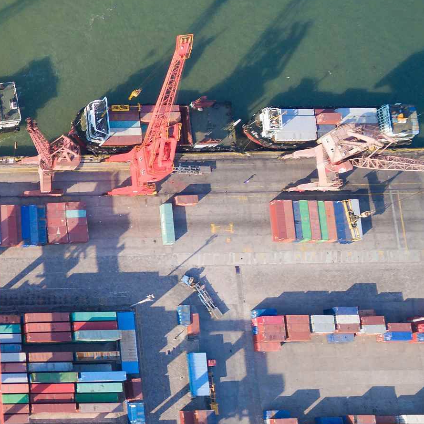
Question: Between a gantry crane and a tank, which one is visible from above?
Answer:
gantry crane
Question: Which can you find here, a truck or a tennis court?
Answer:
truck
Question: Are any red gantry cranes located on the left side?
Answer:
Yes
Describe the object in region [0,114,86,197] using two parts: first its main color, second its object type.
pink container crane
